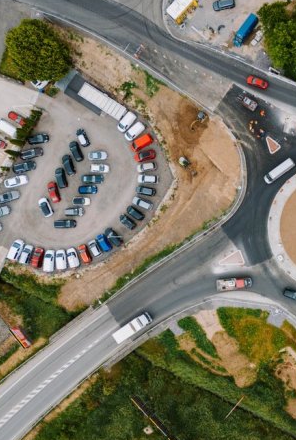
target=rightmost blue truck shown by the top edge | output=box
[232,11,260,51]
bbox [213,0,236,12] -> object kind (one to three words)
vehicle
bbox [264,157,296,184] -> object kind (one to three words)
vehicle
